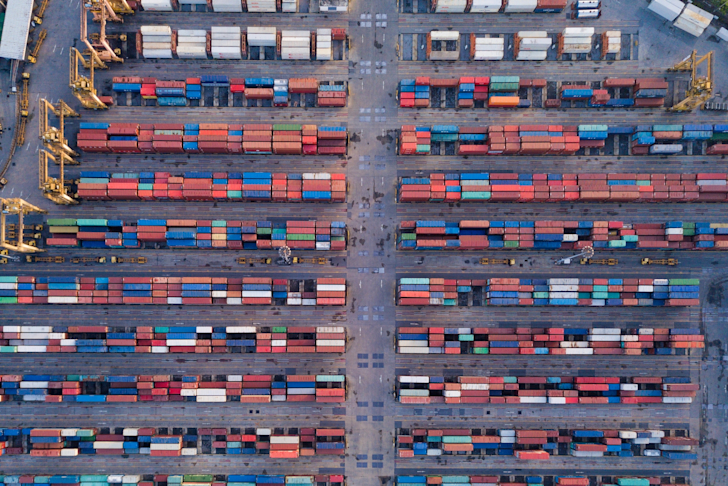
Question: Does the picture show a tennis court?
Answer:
No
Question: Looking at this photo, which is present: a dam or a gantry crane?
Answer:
gantry crane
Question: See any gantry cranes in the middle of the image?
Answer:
No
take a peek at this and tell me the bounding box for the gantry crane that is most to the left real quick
[0,200,41,253]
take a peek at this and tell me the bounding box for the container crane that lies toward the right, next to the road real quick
[667,50,719,112]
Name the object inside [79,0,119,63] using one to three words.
container crane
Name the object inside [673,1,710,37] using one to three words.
shed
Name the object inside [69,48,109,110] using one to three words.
container crane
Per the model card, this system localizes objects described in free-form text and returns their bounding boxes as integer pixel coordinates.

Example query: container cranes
[38,149,81,205]
[667,50,719,112]
[79,0,119,63]
[69,48,109,110]
[0,200,41,253]
[38,99,81,158]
